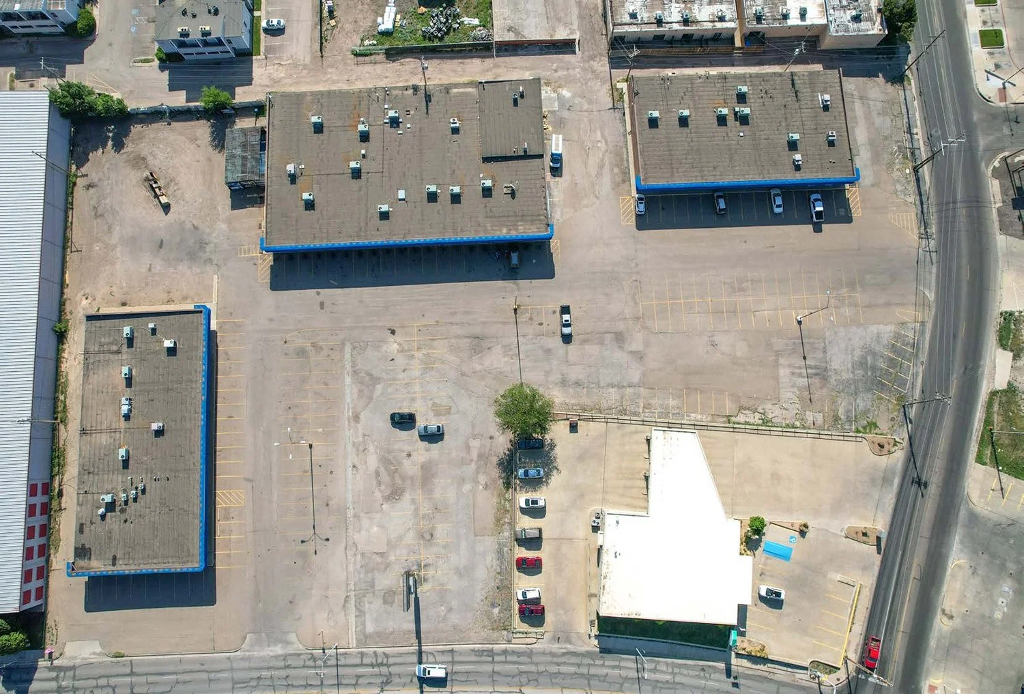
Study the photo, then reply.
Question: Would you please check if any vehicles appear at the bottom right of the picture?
Yes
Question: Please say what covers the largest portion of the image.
paved ground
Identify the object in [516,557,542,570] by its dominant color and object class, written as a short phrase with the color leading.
red vehicle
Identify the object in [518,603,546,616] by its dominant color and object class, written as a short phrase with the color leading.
red vehicle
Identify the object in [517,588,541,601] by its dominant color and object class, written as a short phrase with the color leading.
white vehicle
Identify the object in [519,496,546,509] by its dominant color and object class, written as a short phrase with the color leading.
white vehicle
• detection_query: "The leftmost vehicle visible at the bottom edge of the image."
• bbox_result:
[416,663,447,679]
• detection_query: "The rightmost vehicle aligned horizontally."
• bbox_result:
[757,586,786,600]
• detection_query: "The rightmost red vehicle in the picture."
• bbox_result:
[863,635,880,671]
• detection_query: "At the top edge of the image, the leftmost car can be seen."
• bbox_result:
[262,19,286,31]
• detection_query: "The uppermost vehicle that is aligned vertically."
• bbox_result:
[550,134,563,168]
